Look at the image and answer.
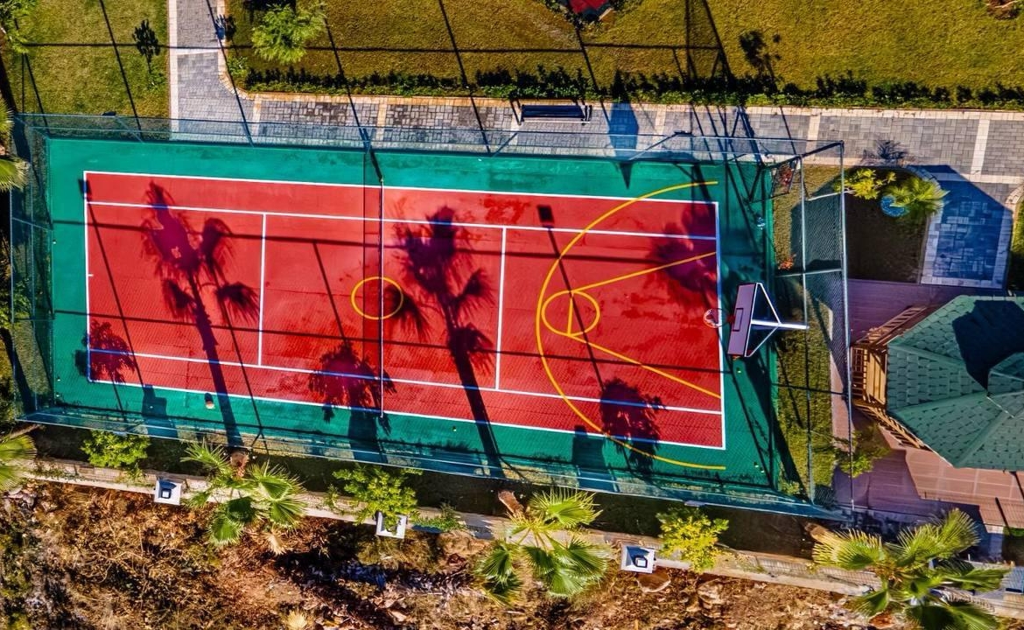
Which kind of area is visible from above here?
sports ground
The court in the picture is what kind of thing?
tennis court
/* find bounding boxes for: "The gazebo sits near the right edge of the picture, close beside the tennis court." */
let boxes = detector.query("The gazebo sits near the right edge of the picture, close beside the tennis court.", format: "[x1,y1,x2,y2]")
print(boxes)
[842,292,1024,475]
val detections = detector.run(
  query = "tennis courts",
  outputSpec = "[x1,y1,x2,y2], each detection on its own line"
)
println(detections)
[49,141,779,490]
